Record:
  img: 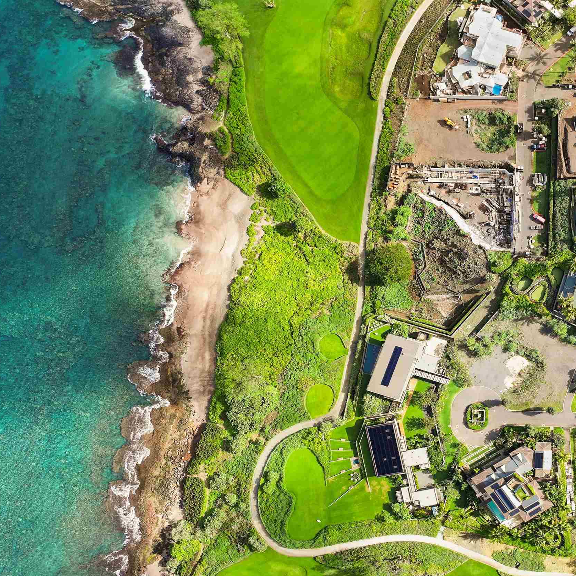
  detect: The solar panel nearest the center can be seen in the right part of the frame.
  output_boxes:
[381,346,403,386]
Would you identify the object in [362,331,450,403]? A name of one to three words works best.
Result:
house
